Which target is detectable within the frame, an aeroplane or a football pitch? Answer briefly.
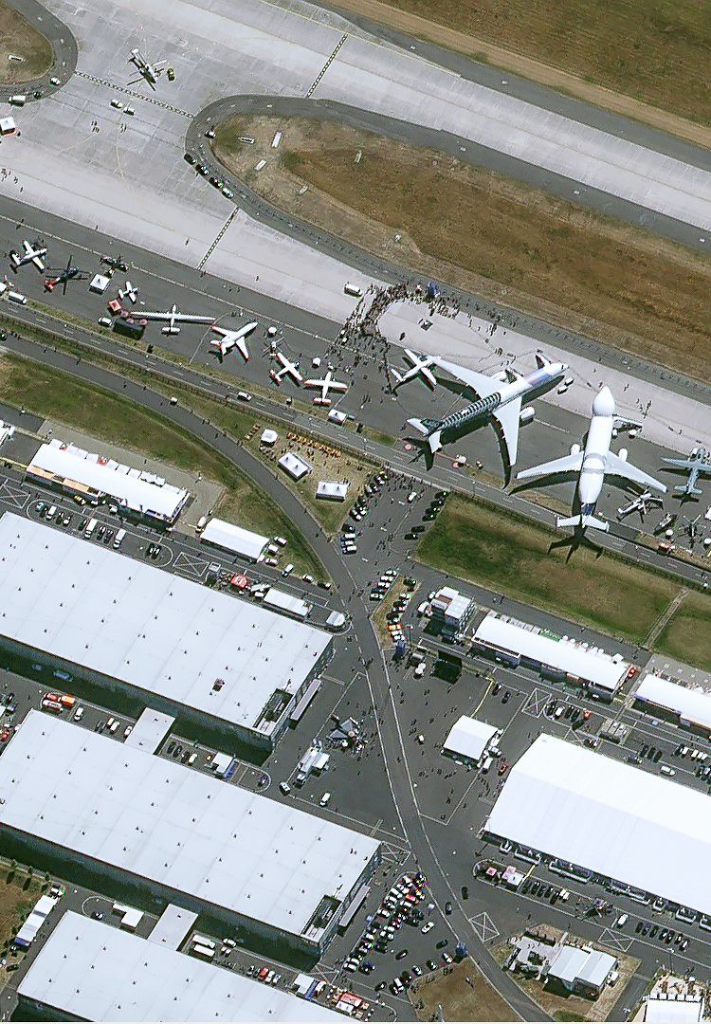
aeroplane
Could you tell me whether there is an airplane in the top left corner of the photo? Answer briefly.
Yes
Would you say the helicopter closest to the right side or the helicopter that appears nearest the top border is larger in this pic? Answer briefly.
the helicopter that appears nearest the top border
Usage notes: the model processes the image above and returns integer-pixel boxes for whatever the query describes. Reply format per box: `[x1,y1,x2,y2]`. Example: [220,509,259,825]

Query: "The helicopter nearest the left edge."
[43,254,90,295]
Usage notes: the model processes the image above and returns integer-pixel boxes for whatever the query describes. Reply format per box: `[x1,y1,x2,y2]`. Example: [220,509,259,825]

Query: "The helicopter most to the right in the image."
[679,516,705,540]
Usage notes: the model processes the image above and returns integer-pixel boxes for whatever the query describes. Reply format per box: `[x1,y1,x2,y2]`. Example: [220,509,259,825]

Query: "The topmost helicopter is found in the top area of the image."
[127,45,166,91]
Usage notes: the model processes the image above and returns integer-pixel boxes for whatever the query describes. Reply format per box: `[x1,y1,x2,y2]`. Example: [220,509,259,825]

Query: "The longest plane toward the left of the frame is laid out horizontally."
[130,304,214,332]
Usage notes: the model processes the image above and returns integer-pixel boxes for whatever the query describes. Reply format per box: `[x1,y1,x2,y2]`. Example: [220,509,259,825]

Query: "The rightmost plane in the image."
[657,447,711,493]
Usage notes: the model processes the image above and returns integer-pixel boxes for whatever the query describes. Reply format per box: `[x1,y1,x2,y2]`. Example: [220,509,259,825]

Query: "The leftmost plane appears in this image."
[12,238,46,270]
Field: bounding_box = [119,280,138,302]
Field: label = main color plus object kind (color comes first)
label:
white airplane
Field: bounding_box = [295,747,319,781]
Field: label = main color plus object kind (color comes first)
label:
white truck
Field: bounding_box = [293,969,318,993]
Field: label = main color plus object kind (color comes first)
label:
white tent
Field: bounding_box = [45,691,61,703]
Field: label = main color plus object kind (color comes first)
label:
red vehicle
